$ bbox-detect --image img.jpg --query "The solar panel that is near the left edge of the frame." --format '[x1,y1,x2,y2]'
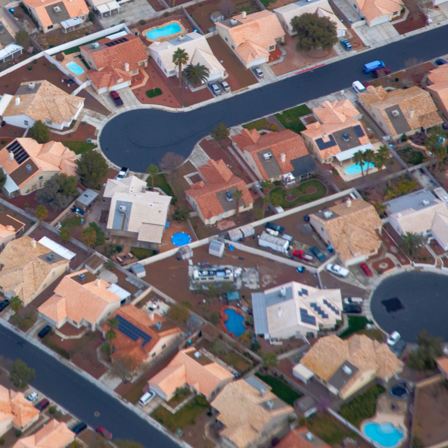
[6,141,30,164]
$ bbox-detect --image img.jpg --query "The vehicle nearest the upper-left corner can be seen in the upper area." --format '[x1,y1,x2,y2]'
[108,90,126,107]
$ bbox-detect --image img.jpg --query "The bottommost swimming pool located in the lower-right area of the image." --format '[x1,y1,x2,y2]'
[361,421,405,448]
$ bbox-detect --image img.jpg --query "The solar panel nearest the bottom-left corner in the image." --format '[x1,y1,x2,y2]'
[117,316,152,342]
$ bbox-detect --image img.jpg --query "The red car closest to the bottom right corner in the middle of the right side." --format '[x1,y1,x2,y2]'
[357,262,375,277]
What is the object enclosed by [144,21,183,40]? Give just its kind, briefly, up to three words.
swimming pool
